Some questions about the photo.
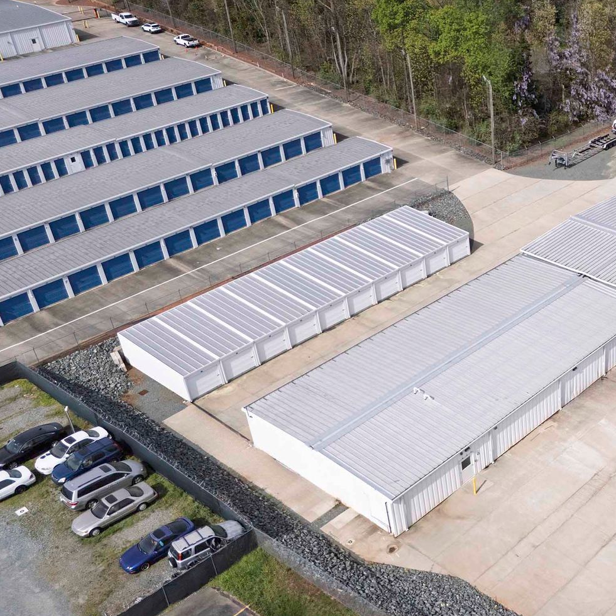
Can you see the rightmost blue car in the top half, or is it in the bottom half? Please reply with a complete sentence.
It is in the bottom half that the rightmost blue car appears.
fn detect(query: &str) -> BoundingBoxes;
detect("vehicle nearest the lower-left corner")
[0,471,42,511]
